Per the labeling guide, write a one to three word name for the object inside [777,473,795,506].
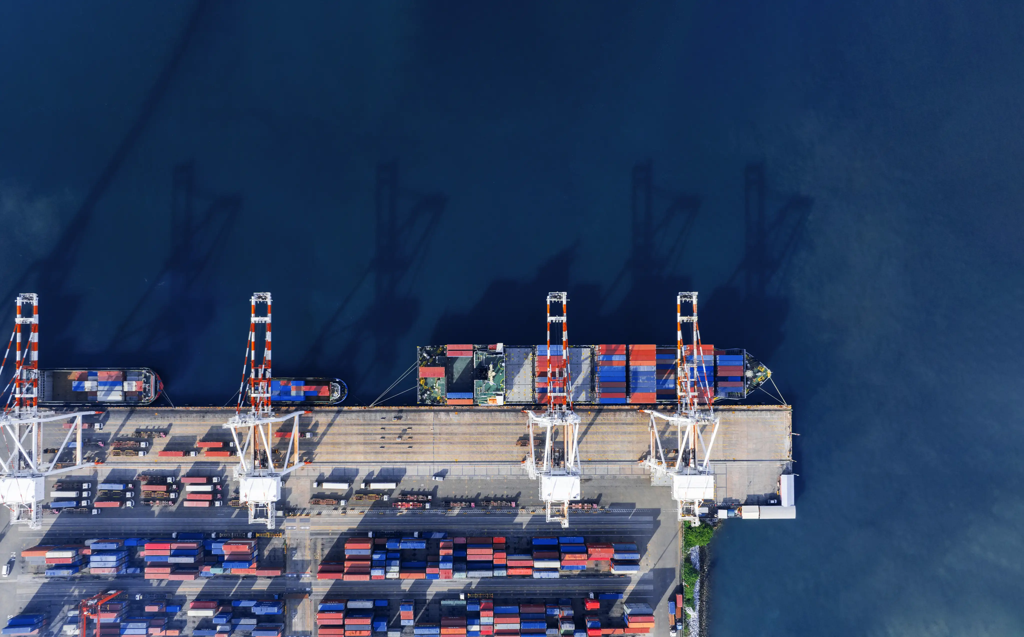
shed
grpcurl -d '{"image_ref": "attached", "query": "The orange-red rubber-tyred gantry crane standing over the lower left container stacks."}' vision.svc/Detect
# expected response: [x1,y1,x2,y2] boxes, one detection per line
[80,587,127,637]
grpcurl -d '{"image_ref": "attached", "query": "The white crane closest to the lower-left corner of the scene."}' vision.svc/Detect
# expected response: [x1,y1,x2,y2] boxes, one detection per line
[0,294,113,531]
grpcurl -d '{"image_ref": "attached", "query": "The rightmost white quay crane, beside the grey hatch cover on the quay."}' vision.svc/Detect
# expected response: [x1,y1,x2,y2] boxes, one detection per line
[631,291,730,528]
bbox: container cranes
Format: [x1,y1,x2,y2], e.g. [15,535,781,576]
[631,291,730,528]
[80,587,127,637]
[0,294,113,531]
[221,293,316,530]
[518,292,588,529]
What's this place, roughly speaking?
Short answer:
port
